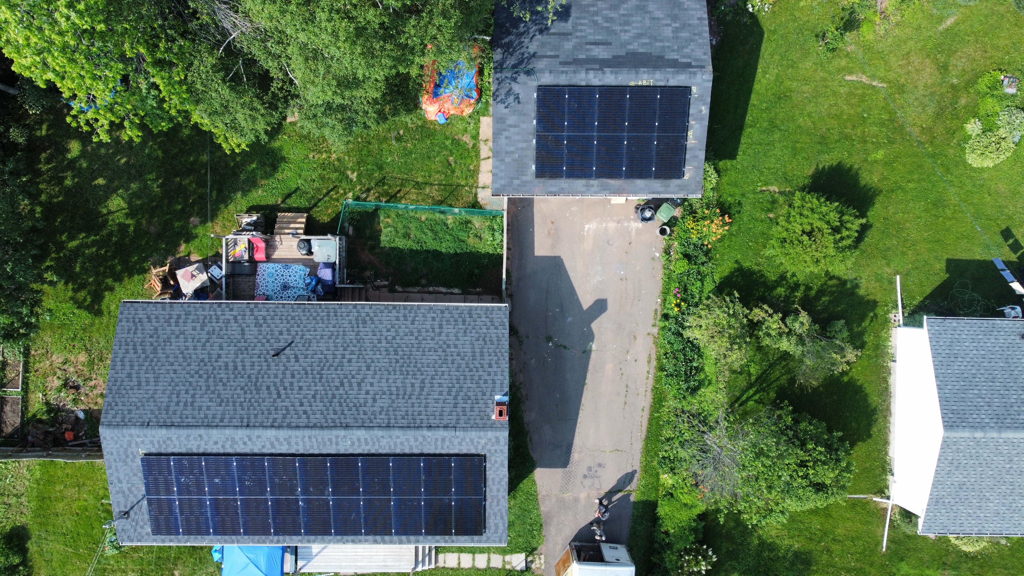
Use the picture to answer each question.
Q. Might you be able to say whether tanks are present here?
No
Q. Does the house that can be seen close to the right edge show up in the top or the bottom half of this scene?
bottom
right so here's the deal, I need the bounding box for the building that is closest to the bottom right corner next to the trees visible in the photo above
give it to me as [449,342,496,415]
[888,315,1024,537]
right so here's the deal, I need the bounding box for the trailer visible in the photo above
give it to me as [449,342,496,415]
[554,541,636,576]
